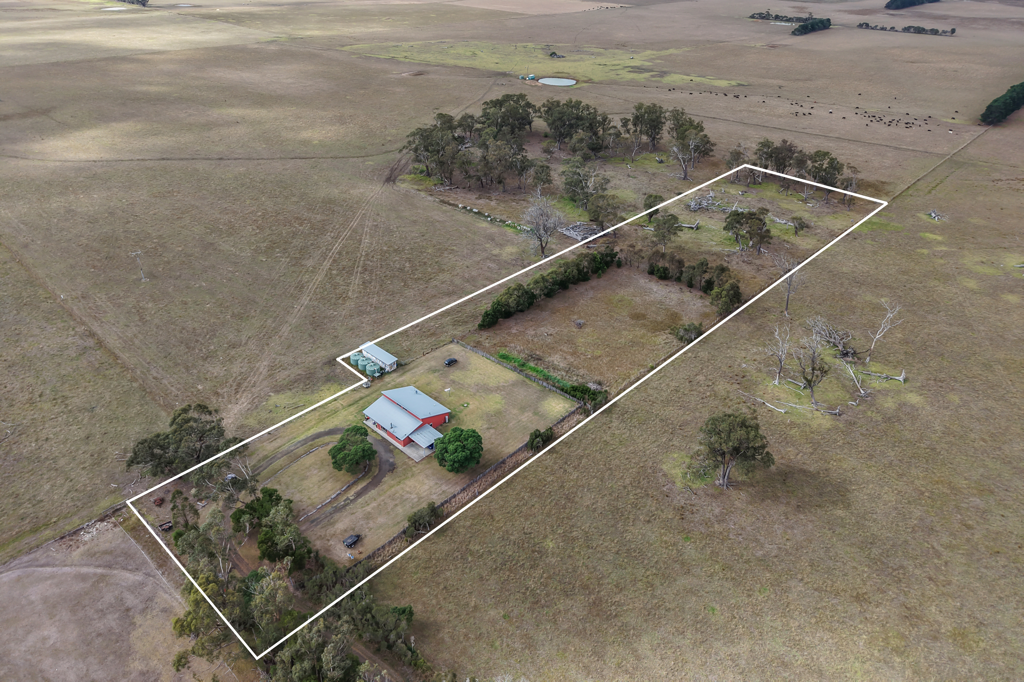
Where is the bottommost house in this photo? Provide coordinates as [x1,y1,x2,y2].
[363,383,451,462]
